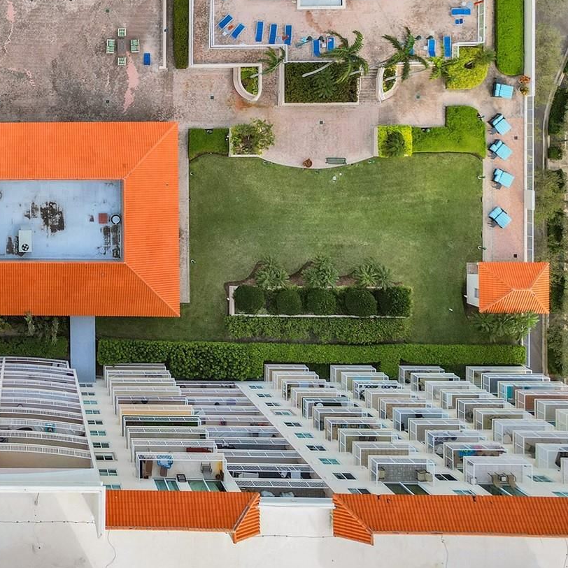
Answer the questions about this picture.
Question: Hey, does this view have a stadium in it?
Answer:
No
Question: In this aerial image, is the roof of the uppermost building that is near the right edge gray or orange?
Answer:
orange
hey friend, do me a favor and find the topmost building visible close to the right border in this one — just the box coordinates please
[459,261,551,315]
